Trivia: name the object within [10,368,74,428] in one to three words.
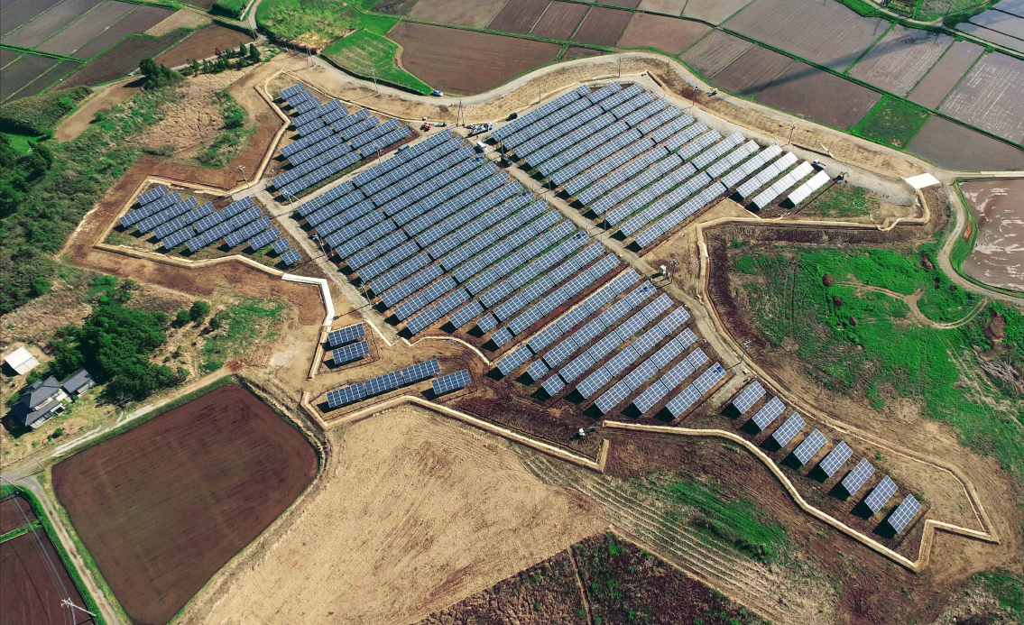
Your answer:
house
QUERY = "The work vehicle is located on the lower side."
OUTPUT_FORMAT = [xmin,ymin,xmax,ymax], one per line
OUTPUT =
[575,426,594,439]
